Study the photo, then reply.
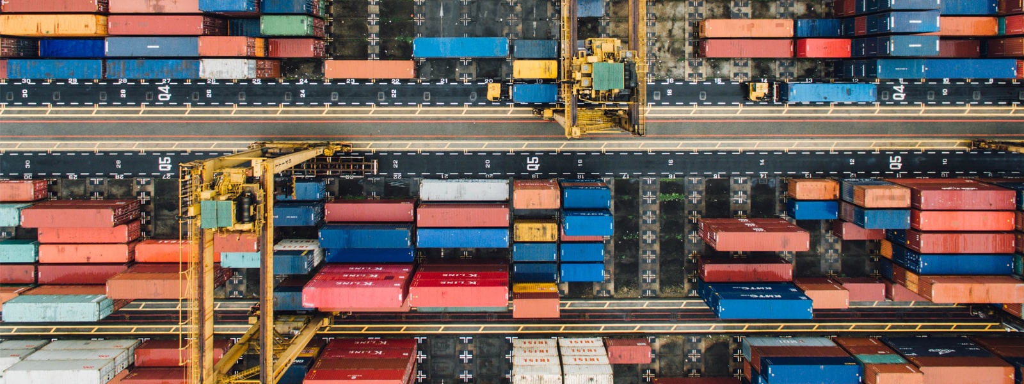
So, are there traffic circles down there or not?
No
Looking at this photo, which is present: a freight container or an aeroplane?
freight container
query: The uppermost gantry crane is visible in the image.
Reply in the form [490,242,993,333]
[530,0,649,139]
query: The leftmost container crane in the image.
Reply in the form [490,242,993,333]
[173,141,349,384]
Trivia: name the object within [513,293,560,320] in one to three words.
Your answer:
shipping container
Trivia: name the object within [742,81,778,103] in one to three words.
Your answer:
truck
